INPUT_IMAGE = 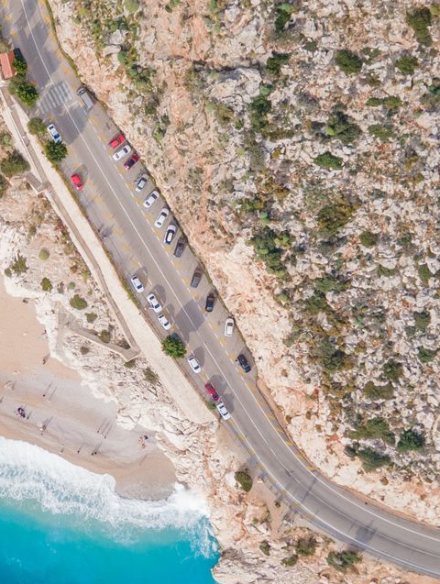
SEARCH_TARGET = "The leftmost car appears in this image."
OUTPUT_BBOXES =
[47,124,62,143]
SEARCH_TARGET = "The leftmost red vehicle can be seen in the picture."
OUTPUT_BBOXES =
[69,173,83,191]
